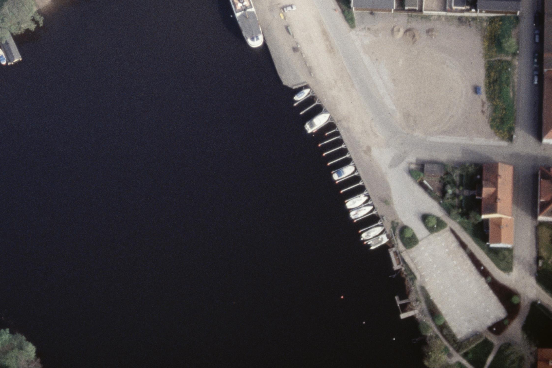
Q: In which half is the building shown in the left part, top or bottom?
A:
top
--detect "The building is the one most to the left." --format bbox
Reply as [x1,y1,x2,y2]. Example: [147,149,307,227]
[0,32,22,66]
